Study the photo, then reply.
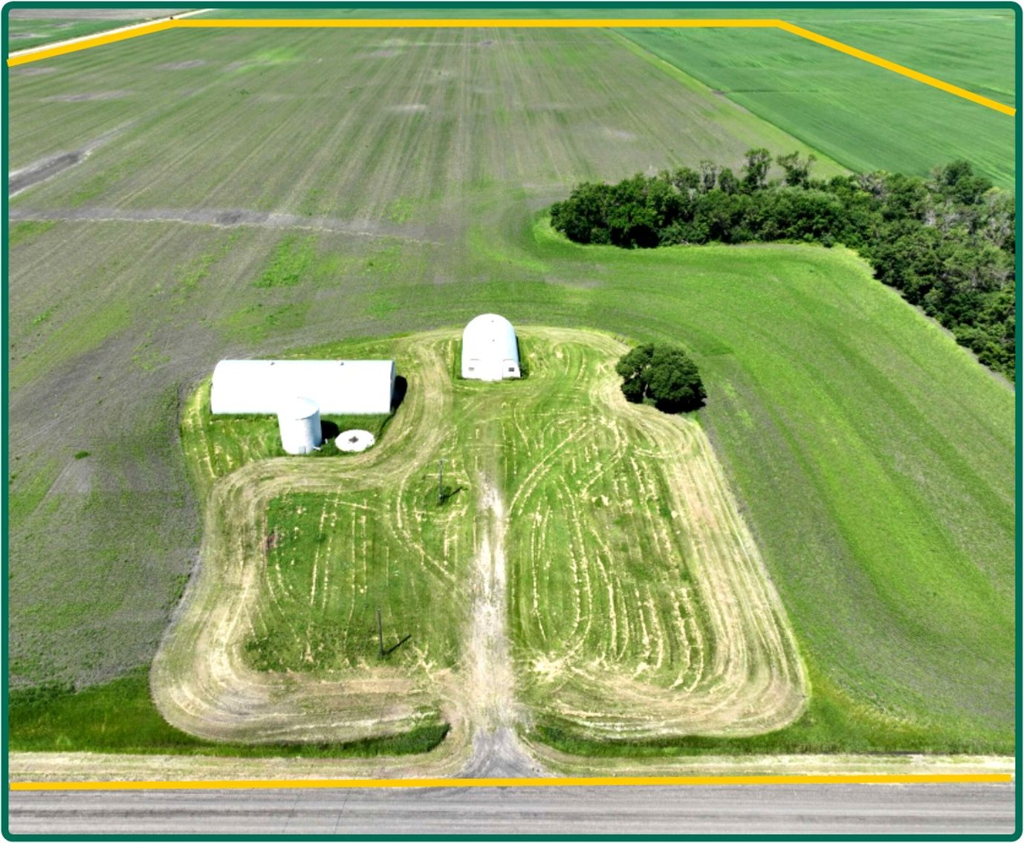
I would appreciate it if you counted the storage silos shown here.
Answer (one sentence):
There is 1 storage silo in the image.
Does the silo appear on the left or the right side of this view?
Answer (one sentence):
It is on the left.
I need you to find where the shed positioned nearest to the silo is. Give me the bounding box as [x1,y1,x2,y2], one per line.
[210,361,401,414]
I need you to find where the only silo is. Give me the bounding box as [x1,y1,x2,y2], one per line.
[274,397,322,454]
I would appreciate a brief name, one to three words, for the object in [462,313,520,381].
building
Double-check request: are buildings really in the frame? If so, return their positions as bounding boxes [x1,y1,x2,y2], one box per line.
[462,313,520,381]
[210,361,401,414]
